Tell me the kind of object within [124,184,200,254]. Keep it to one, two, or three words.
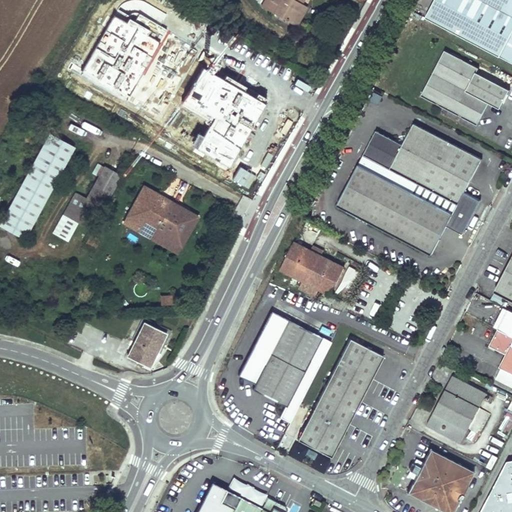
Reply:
house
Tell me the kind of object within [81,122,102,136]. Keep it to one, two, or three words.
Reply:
vehicle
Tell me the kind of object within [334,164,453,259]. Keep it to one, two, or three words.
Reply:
building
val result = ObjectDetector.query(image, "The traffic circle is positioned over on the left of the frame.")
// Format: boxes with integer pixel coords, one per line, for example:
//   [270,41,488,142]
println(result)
[128,376,222,466]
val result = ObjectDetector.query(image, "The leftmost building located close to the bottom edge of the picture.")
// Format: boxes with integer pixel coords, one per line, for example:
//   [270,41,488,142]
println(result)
[198,484,262,512]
